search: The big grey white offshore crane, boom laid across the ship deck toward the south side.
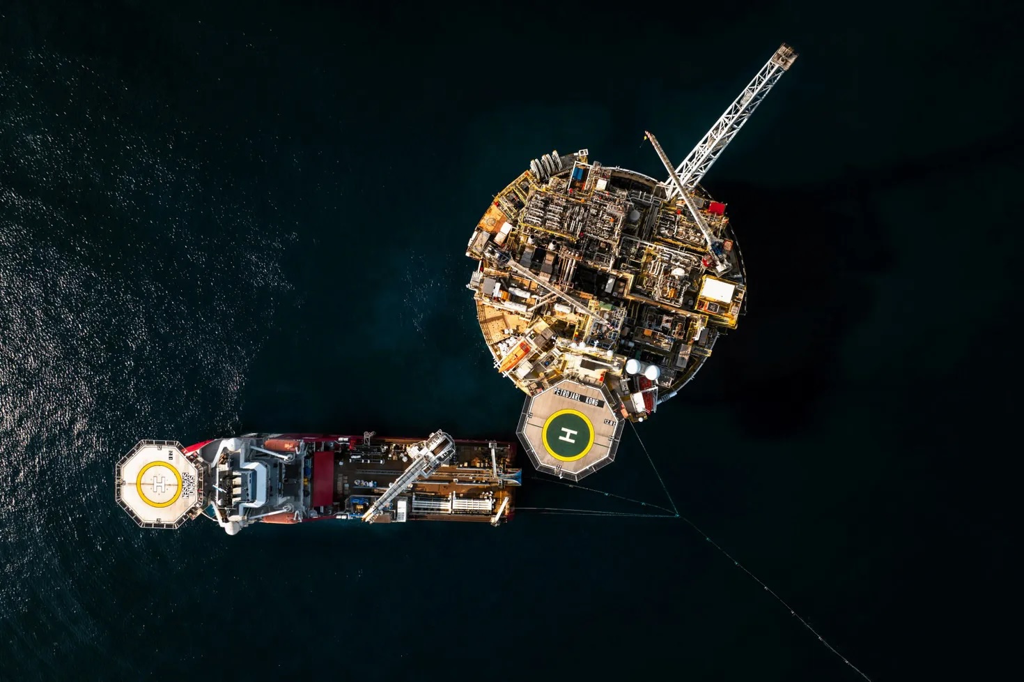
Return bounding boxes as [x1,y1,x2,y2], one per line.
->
[357,429,456,529]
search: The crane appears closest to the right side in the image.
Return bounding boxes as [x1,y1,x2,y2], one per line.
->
[641,131,741,284]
